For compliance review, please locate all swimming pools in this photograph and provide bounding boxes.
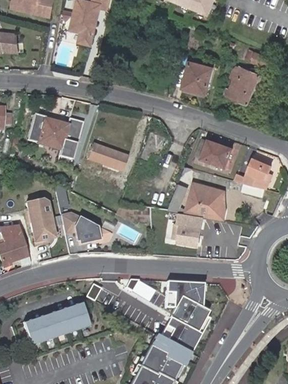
[56,44,74,68]
[115,224,141,244]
